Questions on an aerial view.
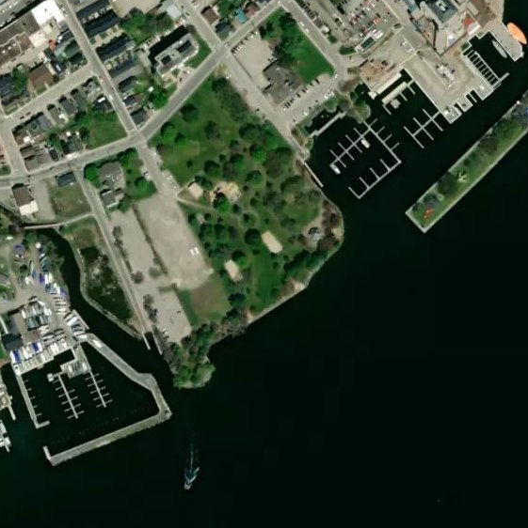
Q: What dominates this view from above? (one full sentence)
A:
The scene is dominated by water.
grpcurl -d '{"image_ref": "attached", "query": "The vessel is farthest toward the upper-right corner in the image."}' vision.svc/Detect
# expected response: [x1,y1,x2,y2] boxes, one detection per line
[509,22,526,42]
